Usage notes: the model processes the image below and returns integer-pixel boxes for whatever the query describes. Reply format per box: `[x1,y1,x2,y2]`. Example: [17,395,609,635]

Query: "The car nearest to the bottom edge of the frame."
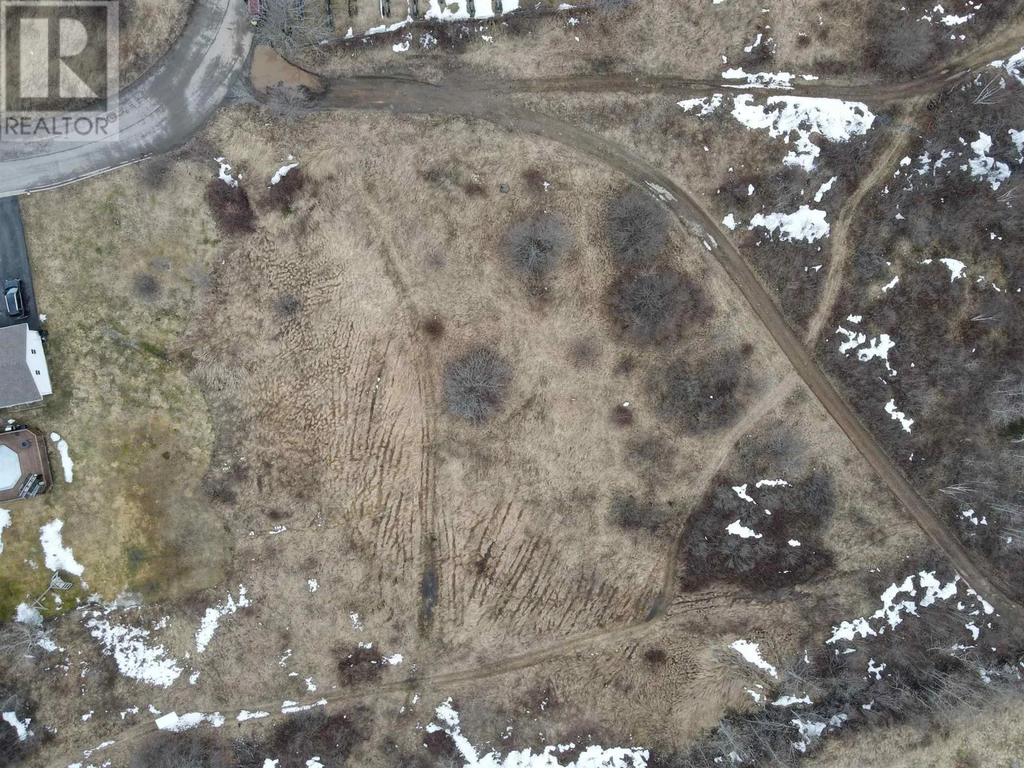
[2,279,28,320]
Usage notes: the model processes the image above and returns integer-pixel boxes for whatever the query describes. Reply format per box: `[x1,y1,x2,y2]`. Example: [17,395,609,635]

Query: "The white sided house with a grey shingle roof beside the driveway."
[0,322,52,408]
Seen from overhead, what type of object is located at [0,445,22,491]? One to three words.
swimming pool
